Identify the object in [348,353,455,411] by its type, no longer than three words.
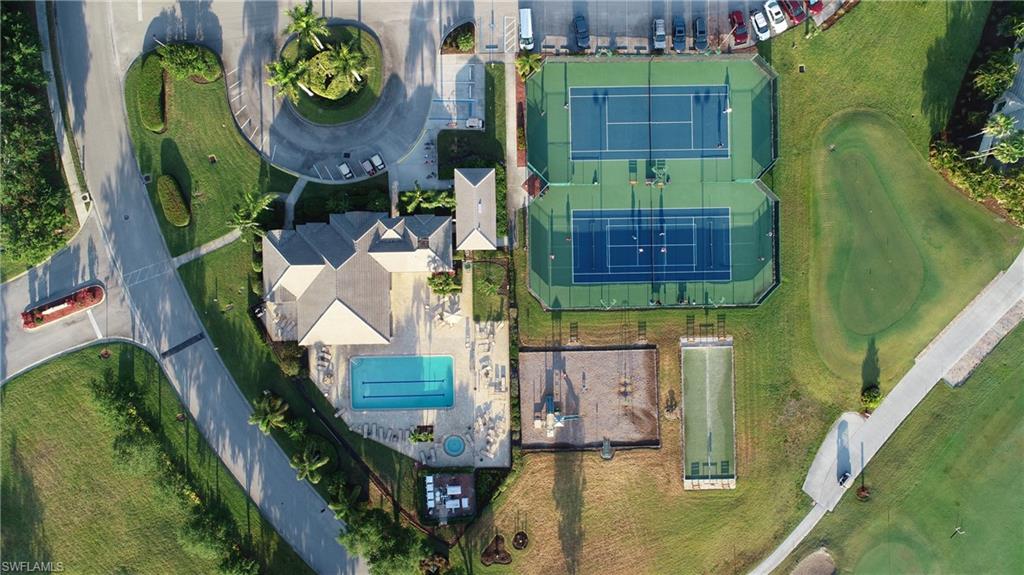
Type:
swimming pool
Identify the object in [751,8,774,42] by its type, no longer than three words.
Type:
car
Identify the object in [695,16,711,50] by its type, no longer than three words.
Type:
car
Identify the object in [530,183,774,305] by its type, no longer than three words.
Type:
tennis court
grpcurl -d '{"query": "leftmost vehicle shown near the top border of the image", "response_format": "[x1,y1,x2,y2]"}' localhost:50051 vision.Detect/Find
[518,4,536,48]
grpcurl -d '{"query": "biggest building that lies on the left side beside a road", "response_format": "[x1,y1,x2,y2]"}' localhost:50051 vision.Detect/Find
[262,211,453,345]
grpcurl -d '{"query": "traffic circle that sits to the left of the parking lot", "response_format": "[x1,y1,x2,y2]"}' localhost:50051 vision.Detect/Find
[279,19,384,125]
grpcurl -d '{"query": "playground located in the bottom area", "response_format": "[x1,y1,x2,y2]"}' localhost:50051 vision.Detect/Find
[519,348,660,451]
